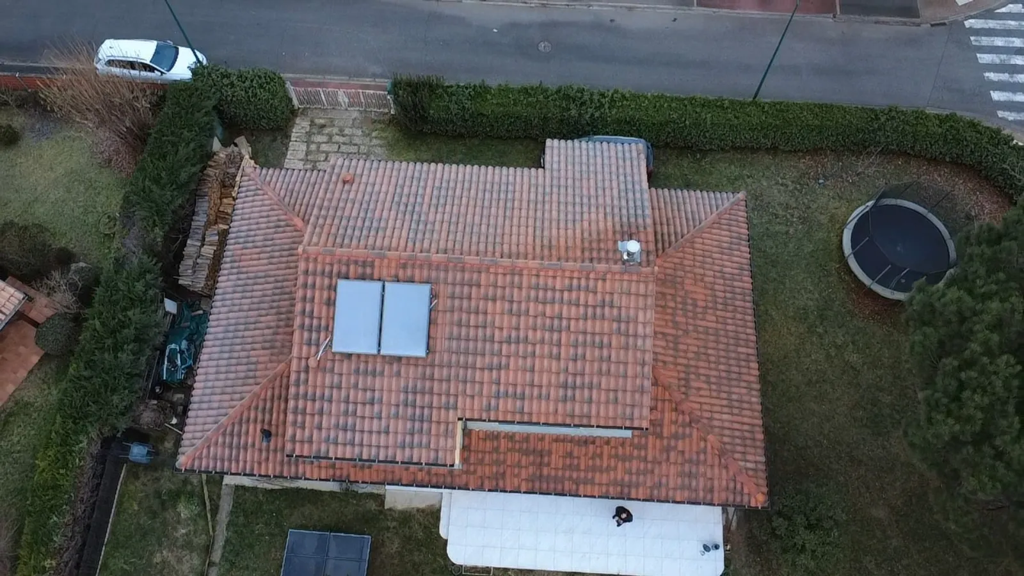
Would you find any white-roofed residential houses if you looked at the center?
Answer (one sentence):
No, no white-roofed residential house can be made out at the center.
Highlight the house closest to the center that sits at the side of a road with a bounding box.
[170,136,773,526]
